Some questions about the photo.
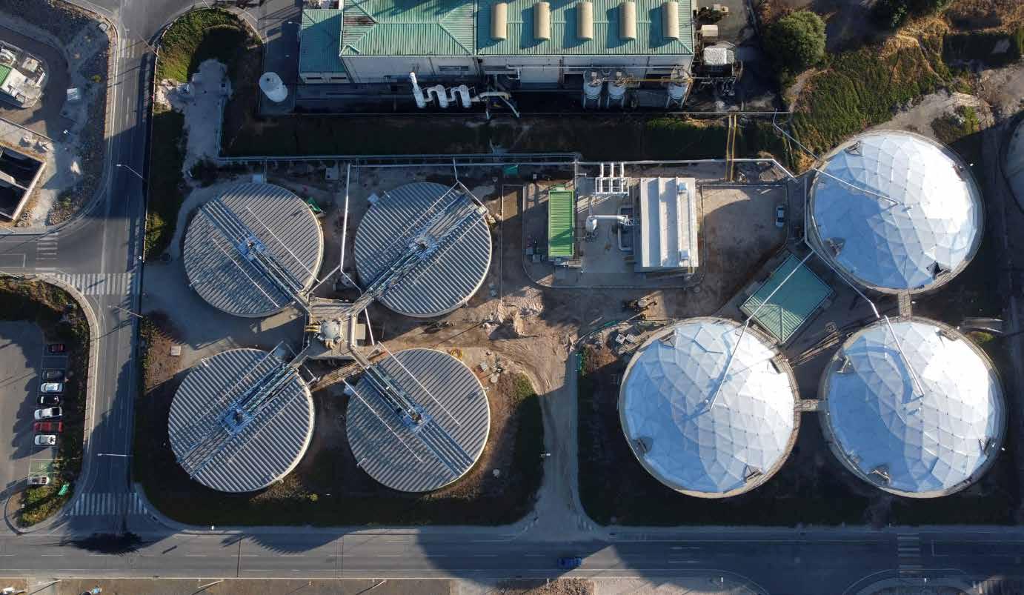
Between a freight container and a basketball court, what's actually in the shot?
freight container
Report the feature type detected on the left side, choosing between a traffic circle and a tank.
tank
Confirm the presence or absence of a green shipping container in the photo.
Yes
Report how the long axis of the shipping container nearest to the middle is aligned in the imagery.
up and down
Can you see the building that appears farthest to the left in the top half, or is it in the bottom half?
top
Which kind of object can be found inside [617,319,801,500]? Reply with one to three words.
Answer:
storage tank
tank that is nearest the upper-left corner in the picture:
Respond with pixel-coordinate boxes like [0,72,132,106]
[261,70,289,101]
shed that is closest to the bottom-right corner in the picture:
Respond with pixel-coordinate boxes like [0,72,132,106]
[739,254,833,343]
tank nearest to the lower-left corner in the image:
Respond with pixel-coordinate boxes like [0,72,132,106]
[168,344,318,495]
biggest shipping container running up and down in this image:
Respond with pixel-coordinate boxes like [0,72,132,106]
[548,186,574,268]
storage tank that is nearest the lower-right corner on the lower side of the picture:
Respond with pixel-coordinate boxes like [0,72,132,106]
[812,318,1007,500]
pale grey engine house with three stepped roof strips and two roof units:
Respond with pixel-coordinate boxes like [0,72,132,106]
[637,177,698,284]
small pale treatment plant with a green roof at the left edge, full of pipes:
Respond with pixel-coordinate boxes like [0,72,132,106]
[0,36,45,108]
